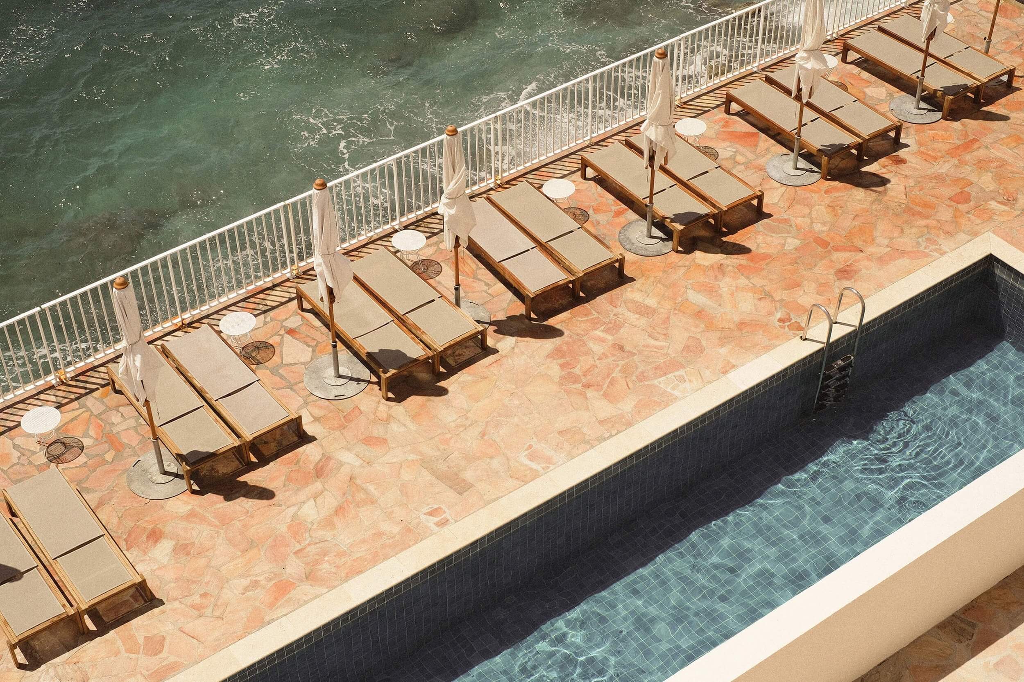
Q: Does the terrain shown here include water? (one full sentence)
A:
Yes, water can be seen from above here.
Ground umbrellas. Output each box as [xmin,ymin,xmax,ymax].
[307,179,366,398]
[892,0,954,124]
[622,49,676,254]
[115,277,192,498]
[436,125,488,338]
[769,0,830,185]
